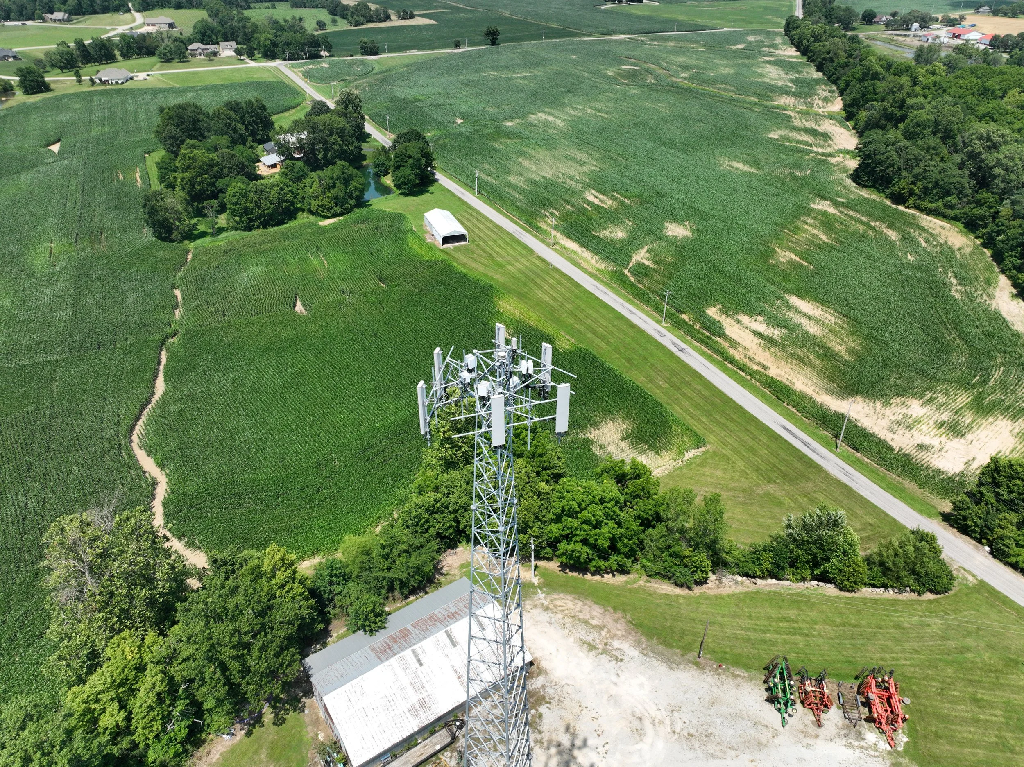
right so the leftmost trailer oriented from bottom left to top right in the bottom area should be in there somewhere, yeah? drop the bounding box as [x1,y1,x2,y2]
[396,720,466,767]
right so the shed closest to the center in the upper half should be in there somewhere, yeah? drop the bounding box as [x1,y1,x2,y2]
[423,209,469,247]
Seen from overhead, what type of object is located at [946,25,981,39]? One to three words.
barn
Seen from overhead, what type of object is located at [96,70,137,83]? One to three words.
house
